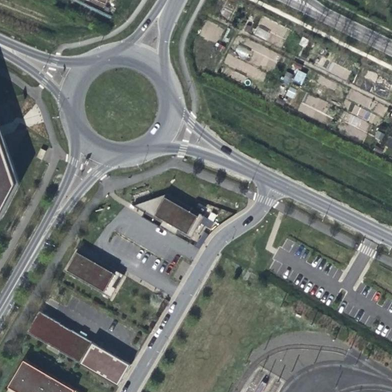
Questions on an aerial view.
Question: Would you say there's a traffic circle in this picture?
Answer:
Yes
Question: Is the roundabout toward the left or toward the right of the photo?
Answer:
left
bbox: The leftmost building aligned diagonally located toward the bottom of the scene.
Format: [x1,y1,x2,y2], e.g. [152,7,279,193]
[26,312,88,364]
